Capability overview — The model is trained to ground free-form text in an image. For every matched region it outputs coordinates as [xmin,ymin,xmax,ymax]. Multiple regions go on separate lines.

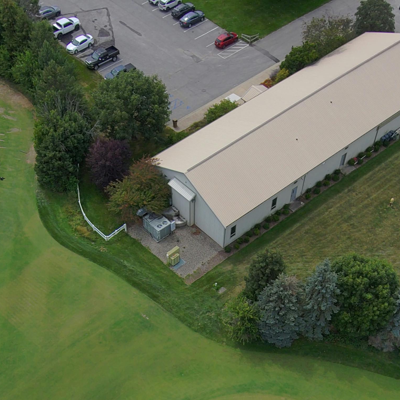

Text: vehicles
[214,32,240,50]
[103,60,141,82]
[34,3,63,20]
[170,3,197,21]
[84,46,122,71]
[156,0,183,14]
[66,34,95,54]
[50,17,85,39]
[179,11,206,28]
